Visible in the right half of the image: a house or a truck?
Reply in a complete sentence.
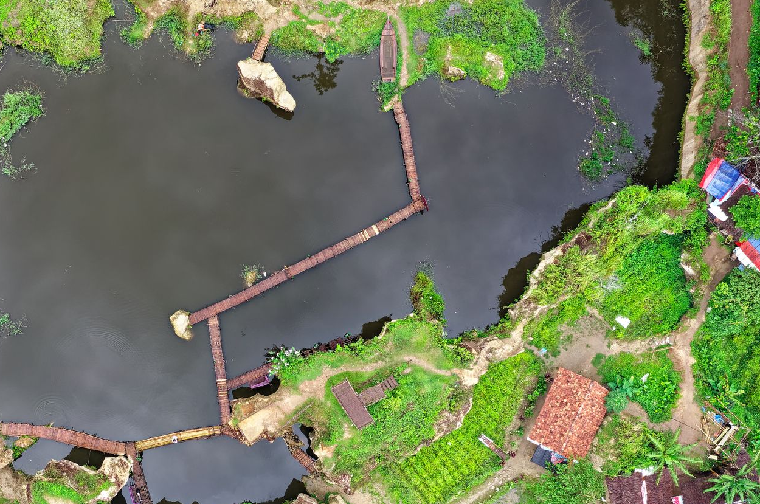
There is a house in the right half of the image.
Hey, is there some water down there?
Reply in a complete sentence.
Yes, water shows up in the scene.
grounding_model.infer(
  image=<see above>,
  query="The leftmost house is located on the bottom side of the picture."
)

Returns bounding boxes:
[520,368,609,469]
